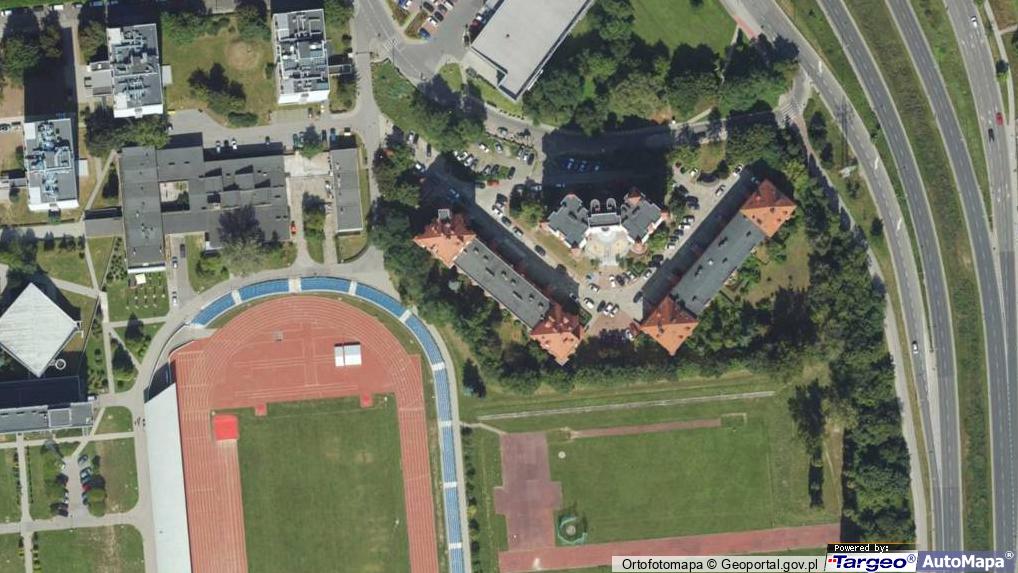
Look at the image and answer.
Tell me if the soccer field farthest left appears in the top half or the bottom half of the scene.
bottom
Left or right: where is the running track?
left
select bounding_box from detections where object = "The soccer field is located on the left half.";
[211,393,409,573]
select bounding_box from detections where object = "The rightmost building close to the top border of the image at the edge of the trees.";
[466,0,595,103]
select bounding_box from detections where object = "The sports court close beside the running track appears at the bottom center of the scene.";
[494,433,563,551]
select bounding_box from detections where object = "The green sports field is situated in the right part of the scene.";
[548,417,774,546]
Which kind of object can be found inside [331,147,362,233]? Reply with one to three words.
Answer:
building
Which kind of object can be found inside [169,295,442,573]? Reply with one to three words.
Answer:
running track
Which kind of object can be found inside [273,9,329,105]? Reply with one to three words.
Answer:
building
